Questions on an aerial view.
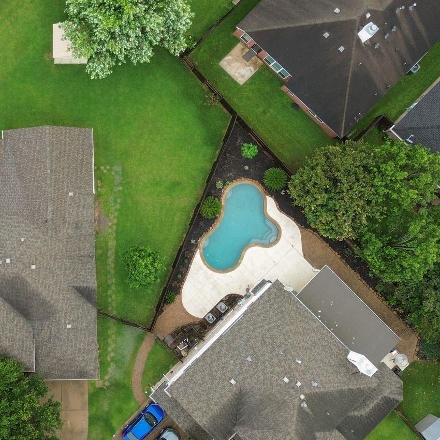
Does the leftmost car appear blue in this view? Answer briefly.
Yes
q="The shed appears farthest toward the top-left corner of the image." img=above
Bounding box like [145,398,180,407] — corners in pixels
[53,24,88,62]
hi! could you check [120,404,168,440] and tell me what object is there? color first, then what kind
blue car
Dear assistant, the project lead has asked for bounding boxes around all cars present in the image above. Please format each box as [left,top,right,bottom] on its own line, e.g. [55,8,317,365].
[156,428,184,440]
[120,404,168,440]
